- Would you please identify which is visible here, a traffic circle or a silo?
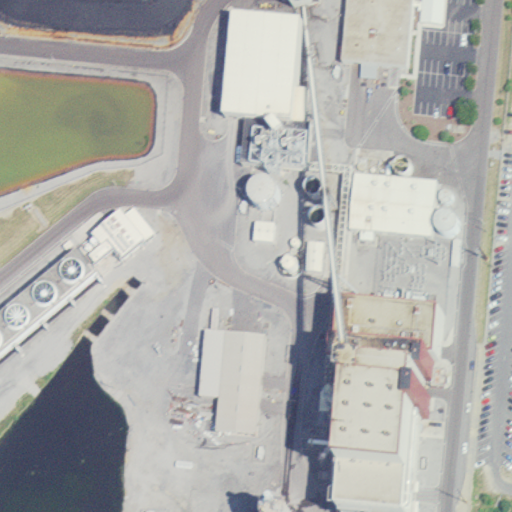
silo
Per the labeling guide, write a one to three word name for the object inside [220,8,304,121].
building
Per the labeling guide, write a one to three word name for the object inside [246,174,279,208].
storage tank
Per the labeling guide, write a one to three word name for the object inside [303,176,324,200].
silo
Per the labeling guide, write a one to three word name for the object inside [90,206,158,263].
building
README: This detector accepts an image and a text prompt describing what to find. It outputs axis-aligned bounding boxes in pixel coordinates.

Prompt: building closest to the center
[253,221,276,244]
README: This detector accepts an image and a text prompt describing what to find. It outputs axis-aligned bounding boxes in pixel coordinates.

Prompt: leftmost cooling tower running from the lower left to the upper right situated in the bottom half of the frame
[0,243,119,372]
